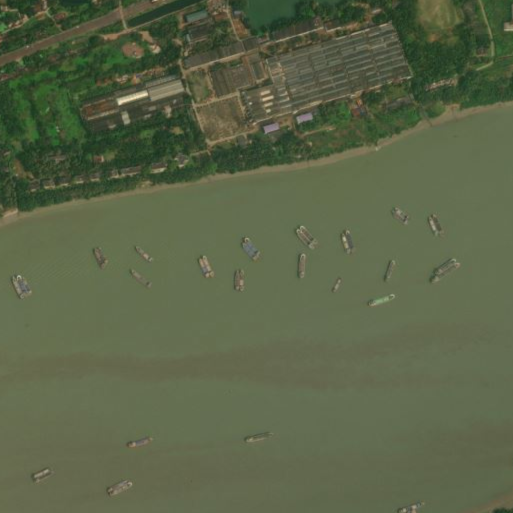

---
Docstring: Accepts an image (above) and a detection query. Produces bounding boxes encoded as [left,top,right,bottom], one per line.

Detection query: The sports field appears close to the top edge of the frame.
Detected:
[416,0,464,31]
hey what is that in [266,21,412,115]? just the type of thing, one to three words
building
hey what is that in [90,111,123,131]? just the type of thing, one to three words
shed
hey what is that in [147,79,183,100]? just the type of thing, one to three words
building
